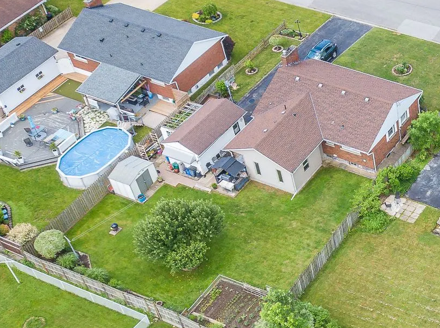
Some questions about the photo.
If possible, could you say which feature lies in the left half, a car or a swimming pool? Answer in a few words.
swimming pool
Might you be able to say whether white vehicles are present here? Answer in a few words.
No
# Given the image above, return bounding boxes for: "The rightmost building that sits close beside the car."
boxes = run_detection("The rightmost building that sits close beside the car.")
[222,51,425,199]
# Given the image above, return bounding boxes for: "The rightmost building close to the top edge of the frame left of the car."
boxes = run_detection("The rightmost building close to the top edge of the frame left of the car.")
[56,0,236,121]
